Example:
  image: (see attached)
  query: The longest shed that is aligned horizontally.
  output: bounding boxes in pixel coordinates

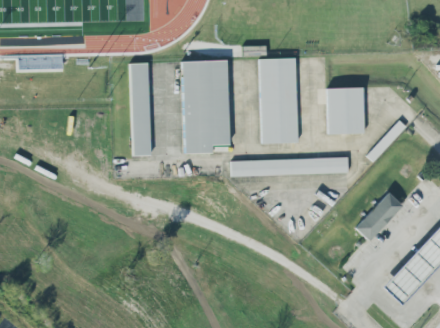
[229,156,349,176]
